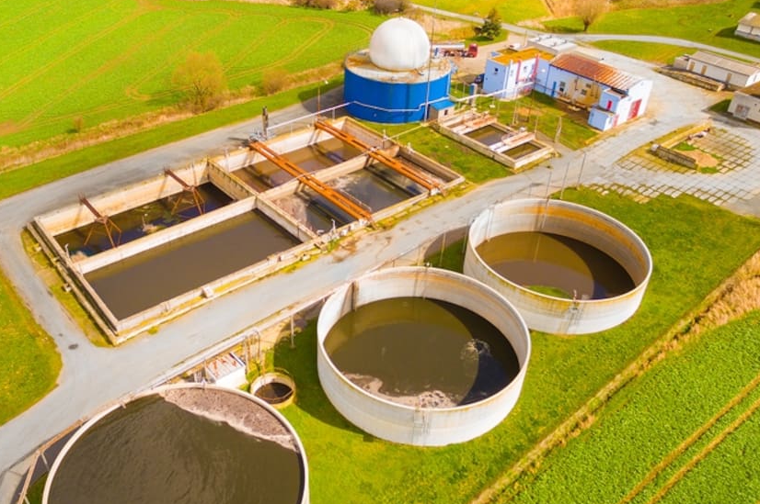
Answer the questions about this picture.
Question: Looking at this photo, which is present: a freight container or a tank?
tank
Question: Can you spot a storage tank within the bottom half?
Yes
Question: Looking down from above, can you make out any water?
Yes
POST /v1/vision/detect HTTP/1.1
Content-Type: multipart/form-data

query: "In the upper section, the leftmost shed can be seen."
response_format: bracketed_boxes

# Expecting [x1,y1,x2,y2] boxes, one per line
[430,100,453,122]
